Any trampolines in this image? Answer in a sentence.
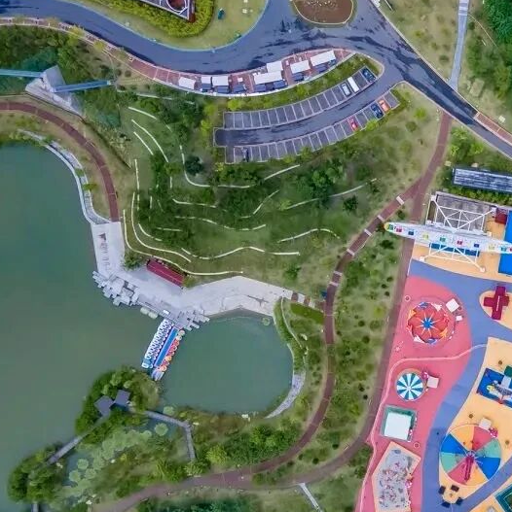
Yes, there's a trampoline down there.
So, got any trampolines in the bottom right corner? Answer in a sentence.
Yes, I can see a trampoline in the bottom right corner.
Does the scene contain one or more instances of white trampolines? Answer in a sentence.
Yes, a white trampoline is visible in the scene.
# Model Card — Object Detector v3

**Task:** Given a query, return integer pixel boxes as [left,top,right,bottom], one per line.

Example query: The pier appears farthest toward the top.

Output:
[155,326,181,368]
